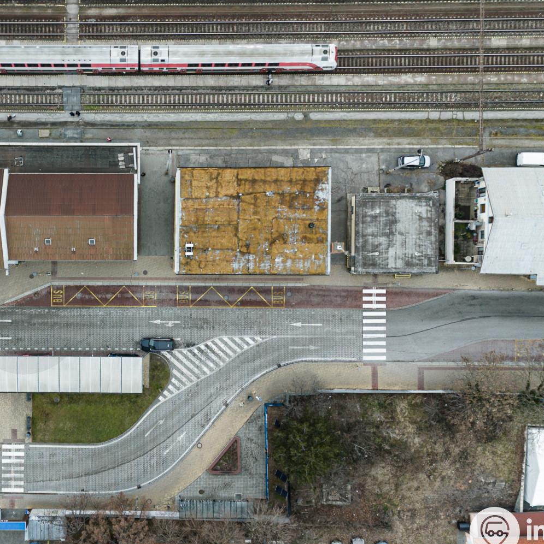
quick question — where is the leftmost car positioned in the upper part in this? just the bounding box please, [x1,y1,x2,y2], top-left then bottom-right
[396,154,429,170]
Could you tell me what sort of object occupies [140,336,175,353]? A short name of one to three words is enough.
car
